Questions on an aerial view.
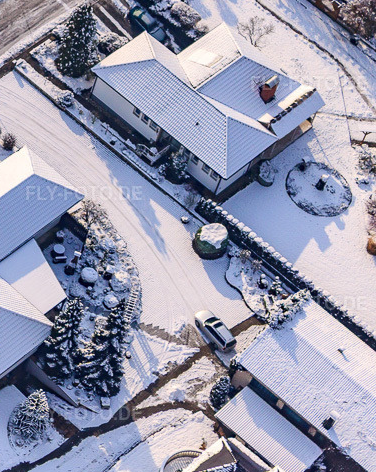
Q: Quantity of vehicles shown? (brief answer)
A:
2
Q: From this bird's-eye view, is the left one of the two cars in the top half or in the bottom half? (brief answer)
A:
top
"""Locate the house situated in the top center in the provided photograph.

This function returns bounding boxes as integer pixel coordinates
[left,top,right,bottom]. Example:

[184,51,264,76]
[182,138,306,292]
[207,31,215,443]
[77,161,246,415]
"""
[91,21,325,201]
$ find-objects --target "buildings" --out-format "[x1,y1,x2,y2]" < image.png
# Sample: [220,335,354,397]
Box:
[238,299,376,472]
[0,146,83,377]
[156,437,294,472]
[91,21,325,201]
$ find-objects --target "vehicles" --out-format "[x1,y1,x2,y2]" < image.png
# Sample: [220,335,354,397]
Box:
[132,5,169,41]
[195,304,238,350]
